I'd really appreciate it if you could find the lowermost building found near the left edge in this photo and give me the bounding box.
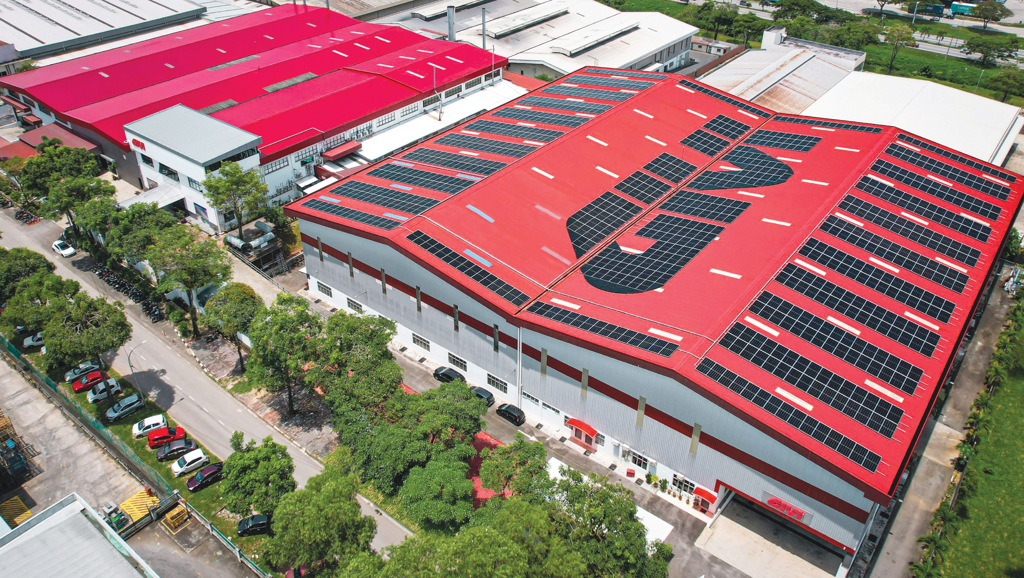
[0,492,155,578]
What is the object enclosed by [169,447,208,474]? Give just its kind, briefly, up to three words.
car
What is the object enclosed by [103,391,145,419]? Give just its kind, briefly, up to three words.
car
